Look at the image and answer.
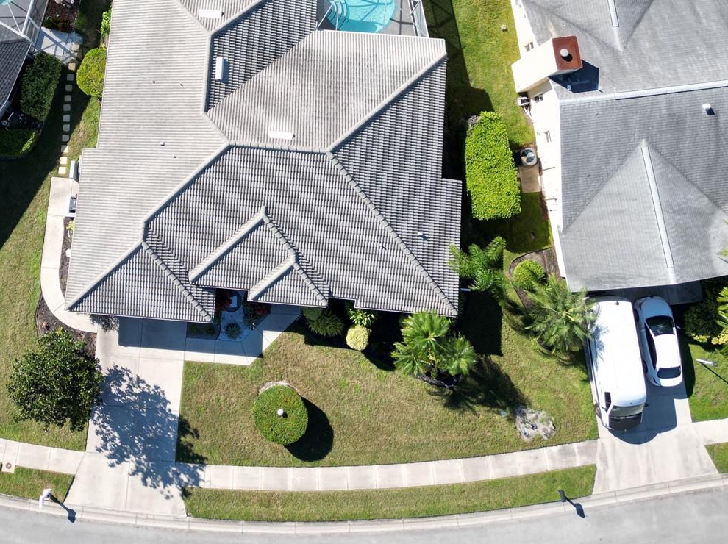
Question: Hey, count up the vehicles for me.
2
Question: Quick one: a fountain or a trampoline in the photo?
fountain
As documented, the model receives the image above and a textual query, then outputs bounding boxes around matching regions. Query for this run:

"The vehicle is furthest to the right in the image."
[635,296,686,390]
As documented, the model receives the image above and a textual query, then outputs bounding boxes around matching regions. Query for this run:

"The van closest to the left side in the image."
[587,304,649,427]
